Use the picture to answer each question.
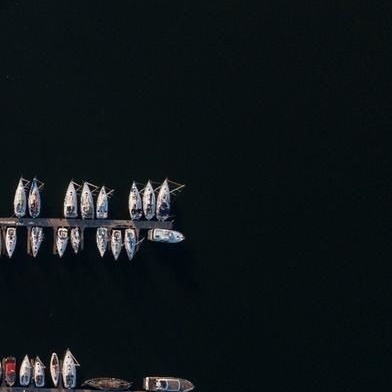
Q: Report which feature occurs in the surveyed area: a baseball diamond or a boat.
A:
boat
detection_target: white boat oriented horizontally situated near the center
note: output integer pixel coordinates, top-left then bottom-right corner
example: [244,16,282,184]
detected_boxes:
[145,229,185,243]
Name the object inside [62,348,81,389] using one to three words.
boat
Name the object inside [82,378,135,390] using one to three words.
boat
